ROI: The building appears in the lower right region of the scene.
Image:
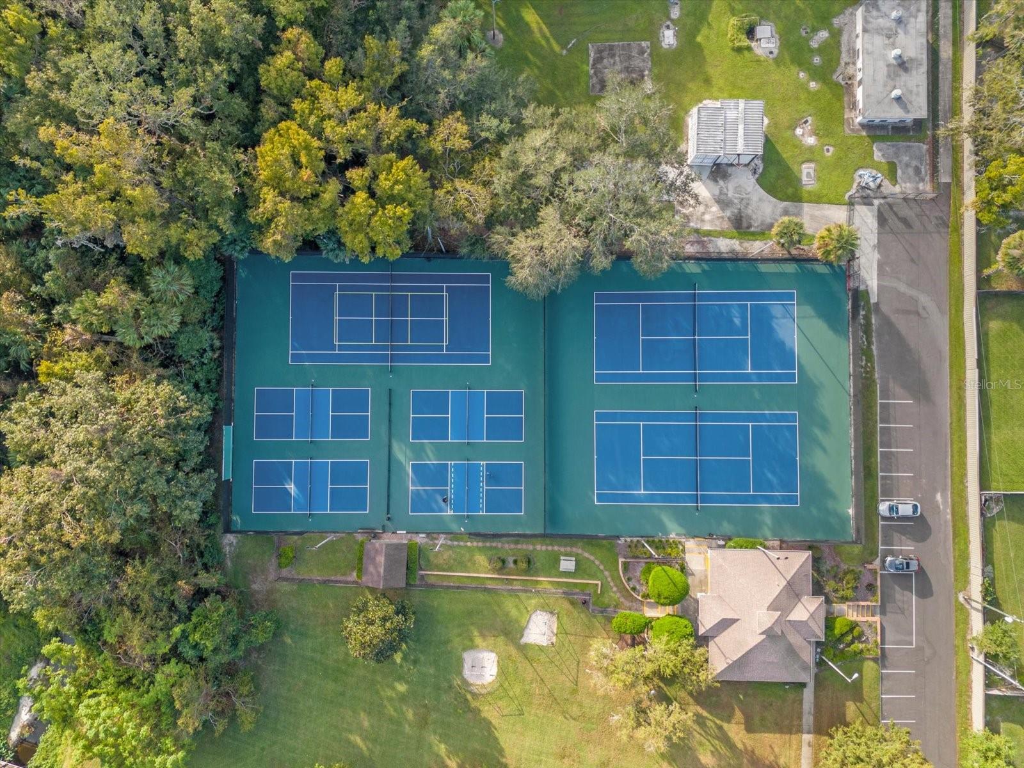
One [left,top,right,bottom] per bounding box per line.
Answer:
[693,549,825,682]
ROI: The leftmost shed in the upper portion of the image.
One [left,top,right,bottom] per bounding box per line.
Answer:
[688,100,764,166]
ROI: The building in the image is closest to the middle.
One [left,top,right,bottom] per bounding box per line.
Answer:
[362,539,409,588]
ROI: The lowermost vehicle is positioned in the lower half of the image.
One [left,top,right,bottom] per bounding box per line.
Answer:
[885,555,924,575]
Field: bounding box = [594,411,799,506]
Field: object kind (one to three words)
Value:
tennis court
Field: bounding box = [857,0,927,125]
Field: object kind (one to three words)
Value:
building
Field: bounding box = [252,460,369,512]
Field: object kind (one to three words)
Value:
sports court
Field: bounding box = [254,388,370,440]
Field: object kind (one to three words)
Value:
sports court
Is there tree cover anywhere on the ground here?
Yes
